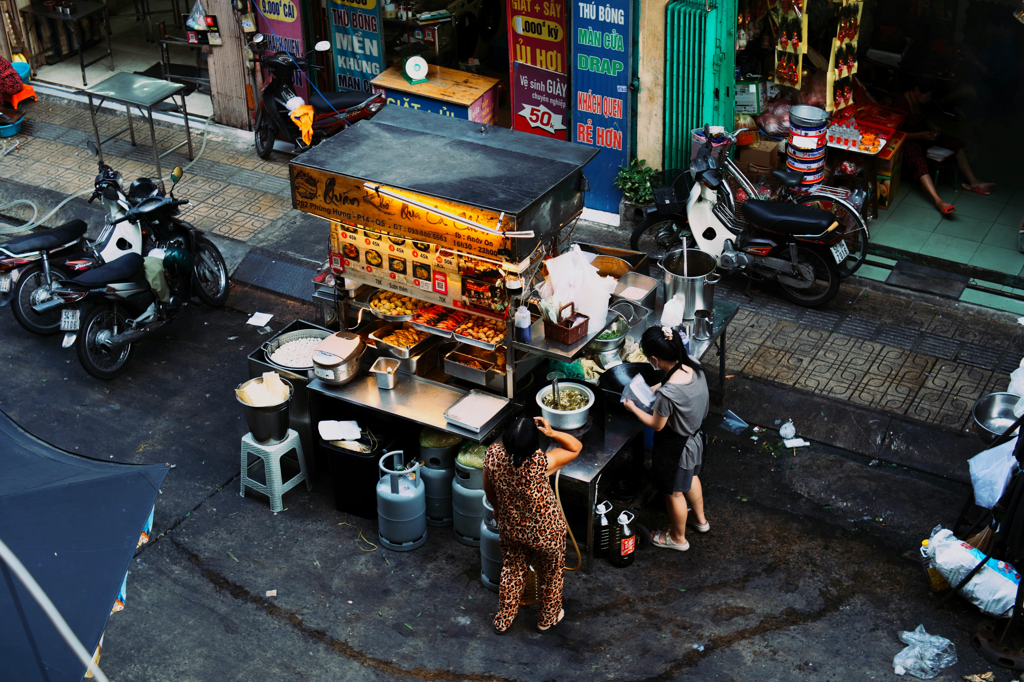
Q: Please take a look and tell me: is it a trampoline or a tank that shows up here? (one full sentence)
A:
This aerial view contains a tank.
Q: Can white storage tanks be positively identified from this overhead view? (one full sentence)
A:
No, the photo shows no white storage tank.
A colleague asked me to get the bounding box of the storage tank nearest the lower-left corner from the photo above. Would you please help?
[377,470,427,540]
